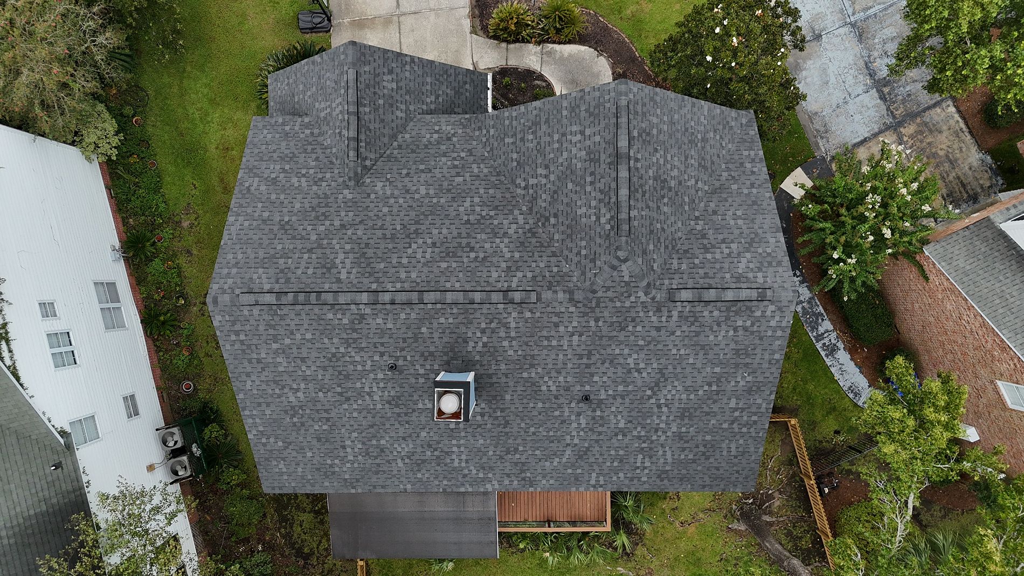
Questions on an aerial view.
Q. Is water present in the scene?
No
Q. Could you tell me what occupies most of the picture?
buildings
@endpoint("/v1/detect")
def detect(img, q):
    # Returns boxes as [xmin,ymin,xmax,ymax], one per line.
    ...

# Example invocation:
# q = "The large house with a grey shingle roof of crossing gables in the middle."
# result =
[207,41,797,558]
